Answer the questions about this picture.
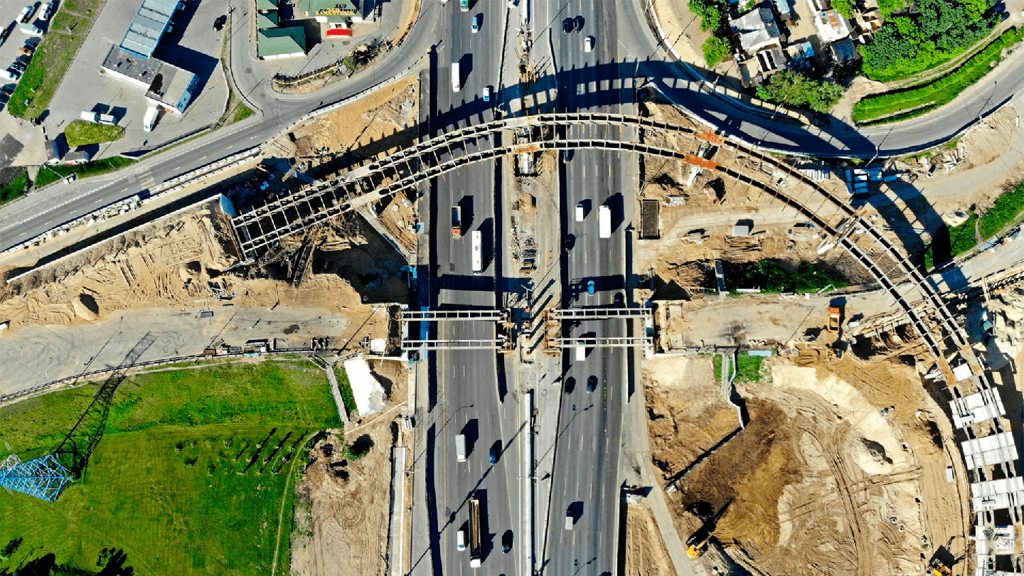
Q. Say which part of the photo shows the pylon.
bottom left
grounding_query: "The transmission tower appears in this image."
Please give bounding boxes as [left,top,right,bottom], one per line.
[0,449,83,507]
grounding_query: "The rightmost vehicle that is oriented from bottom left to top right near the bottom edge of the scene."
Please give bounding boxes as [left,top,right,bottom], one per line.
[685,532,717,565]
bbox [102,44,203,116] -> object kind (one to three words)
building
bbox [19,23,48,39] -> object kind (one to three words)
vehicle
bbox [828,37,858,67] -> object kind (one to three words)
house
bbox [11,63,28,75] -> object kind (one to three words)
vehicle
